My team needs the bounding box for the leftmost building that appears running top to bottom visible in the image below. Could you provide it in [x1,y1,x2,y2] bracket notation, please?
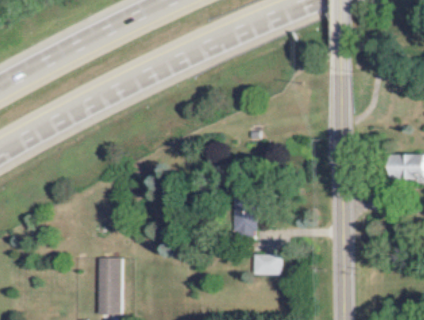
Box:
[98,257,126,314]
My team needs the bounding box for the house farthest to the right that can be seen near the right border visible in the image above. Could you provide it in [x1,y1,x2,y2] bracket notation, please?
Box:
[386,154,424,184]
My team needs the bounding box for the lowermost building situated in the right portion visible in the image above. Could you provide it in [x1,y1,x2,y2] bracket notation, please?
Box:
[254,254,285,276]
